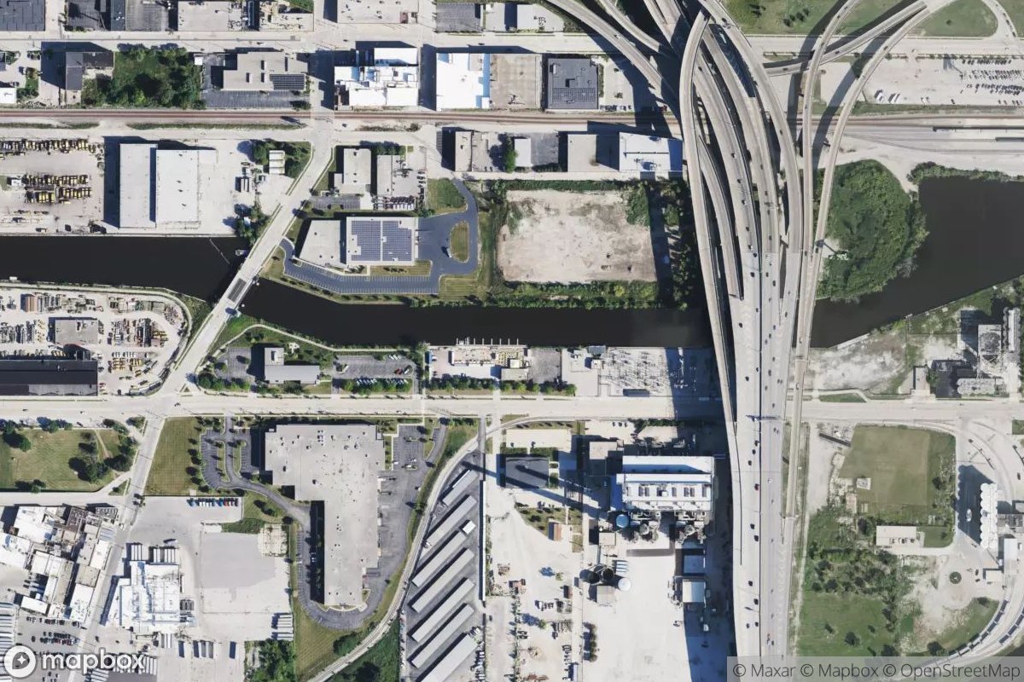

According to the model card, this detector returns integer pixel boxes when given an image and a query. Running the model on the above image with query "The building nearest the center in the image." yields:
[502,359,528,382]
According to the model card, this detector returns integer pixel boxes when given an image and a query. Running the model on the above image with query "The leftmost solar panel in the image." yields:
[270,74,304,89]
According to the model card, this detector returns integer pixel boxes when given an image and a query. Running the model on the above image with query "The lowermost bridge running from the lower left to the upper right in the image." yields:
[212,246,272,320]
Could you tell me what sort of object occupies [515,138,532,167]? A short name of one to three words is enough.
house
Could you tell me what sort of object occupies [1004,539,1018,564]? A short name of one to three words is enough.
shed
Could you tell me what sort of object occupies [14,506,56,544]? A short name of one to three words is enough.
building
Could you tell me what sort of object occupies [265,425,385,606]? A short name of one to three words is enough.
warehouse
